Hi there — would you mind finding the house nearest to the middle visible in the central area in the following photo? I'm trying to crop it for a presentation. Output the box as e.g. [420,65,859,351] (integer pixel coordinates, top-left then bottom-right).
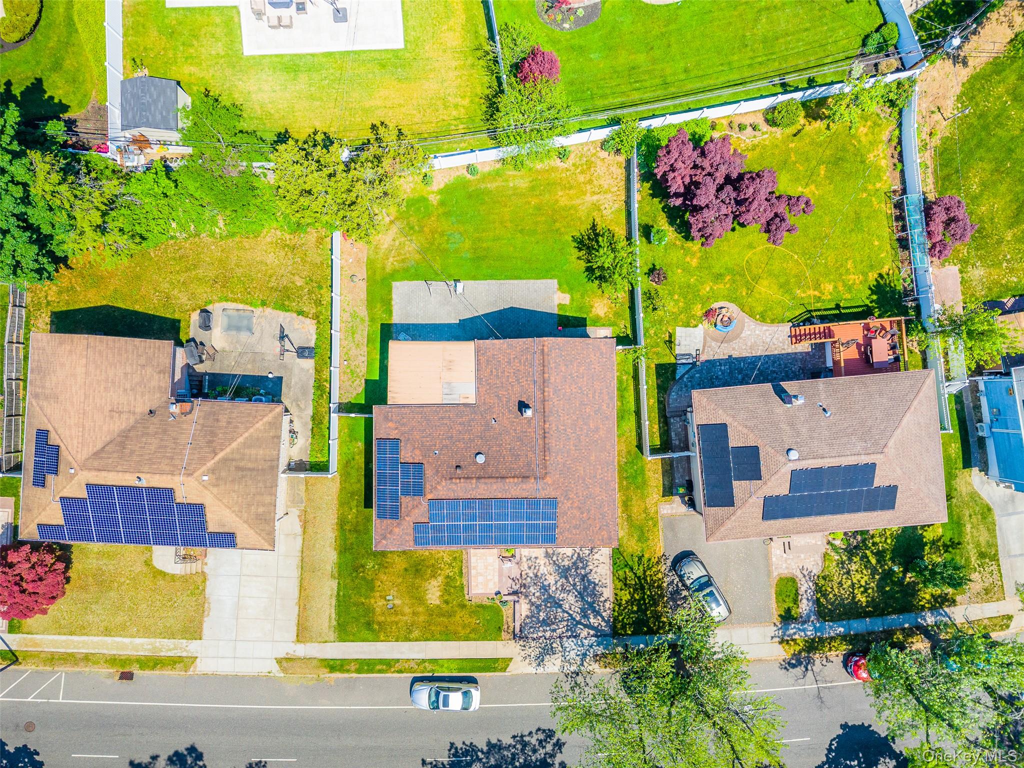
[371,337,620,553]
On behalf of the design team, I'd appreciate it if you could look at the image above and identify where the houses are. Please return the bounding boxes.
[371,337,620,553]
[978,366,1024,484]
[687,368,949,543]
[17,333,296,552]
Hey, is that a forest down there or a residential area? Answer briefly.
residential area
